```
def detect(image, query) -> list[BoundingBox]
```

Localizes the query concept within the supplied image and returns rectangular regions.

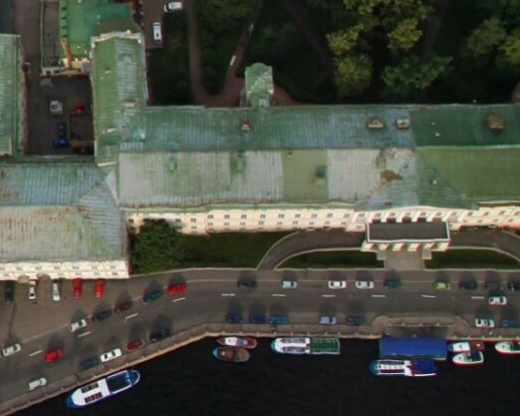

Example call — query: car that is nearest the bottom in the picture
[27,377,47,390]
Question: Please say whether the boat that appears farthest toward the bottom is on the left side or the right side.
left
